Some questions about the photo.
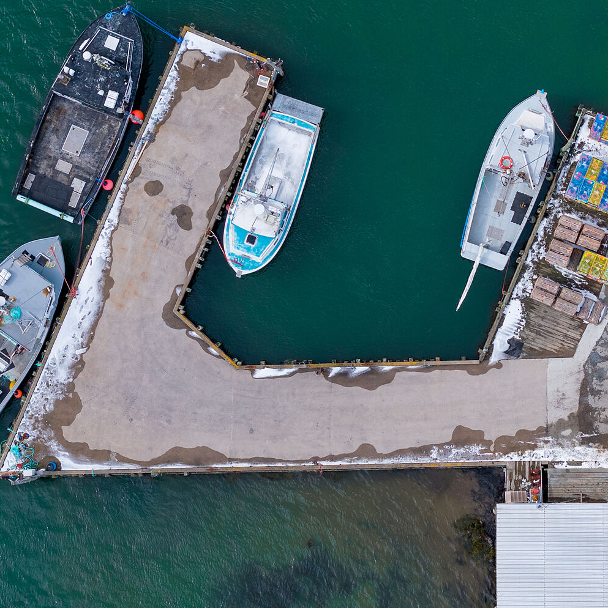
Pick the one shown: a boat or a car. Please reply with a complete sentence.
I can see a boat in this picture.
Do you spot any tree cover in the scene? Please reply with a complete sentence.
No, there's no tree cover in this view.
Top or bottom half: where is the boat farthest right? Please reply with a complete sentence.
You can find the boat farthest right in the top half.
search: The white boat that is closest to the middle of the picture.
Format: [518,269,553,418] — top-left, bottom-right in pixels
[223,93,325,278]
